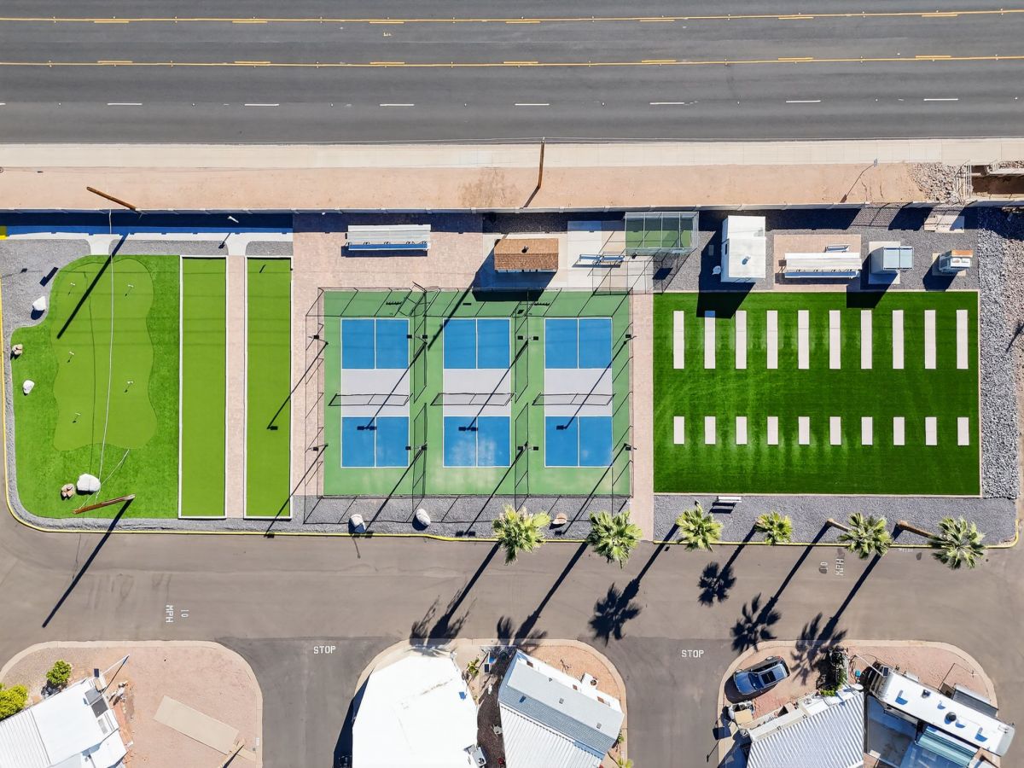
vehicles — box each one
[725,699,753,725]
[859,658,1013,768]
[734,656,789,693]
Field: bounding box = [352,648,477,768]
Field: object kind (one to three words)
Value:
house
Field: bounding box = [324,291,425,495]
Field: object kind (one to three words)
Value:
sports court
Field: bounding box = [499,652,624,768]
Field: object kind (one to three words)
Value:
house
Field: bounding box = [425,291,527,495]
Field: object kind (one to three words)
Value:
sports court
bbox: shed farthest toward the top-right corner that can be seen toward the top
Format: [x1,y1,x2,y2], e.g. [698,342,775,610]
[869,246,914,273]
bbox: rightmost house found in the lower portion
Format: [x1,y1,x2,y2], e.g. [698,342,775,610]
[739,676,866,768]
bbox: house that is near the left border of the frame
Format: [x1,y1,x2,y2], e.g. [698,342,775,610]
[0,669,136,768]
